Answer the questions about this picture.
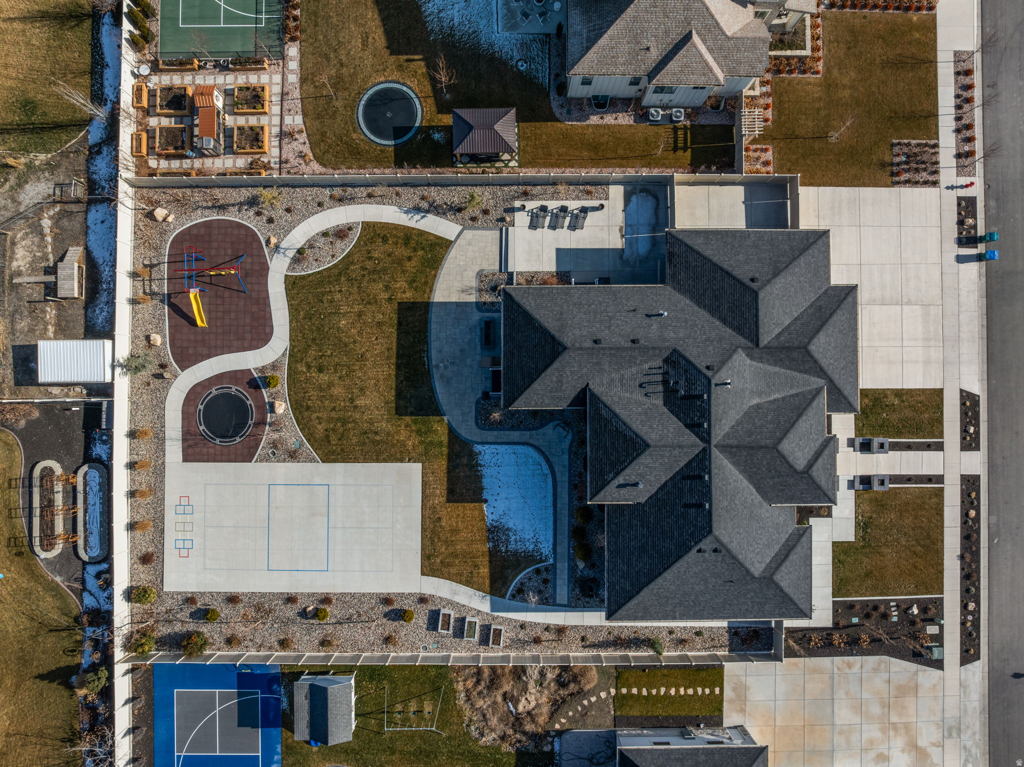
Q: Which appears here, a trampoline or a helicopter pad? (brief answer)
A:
trampoline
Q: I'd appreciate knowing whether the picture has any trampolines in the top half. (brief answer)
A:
Yes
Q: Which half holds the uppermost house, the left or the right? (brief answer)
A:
right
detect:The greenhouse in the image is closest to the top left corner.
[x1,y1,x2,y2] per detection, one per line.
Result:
[194,86,223,153]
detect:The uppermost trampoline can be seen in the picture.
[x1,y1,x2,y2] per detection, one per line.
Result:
[357,82,421,146]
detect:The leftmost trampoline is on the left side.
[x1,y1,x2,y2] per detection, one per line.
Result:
[195,386,255,446]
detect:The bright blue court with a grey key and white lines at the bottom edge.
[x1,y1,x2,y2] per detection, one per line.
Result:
[153,663,281,767]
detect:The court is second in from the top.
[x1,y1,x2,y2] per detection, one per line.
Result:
[163,463,421,593]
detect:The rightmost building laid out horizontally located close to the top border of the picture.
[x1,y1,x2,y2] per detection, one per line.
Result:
[564,0,816,106]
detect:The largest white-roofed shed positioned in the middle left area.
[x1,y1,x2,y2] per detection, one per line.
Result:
[37,340,116,383]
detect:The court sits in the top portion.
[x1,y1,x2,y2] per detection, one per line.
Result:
[159,0,284,57]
